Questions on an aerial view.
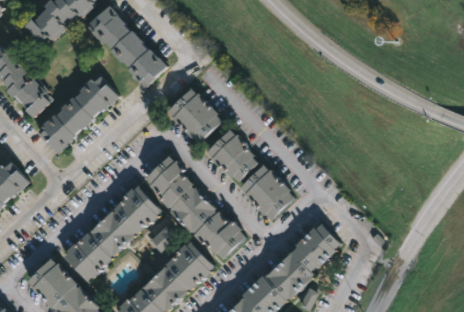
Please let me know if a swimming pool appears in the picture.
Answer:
Yes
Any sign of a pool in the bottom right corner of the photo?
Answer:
No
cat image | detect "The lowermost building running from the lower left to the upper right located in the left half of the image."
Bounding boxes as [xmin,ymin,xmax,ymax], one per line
[122,244,216,312]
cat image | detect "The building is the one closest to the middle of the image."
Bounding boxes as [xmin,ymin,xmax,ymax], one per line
[210,130,262,184]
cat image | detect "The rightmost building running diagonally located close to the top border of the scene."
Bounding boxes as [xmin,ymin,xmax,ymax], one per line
[93,8,170,88]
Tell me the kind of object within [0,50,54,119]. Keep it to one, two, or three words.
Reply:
building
